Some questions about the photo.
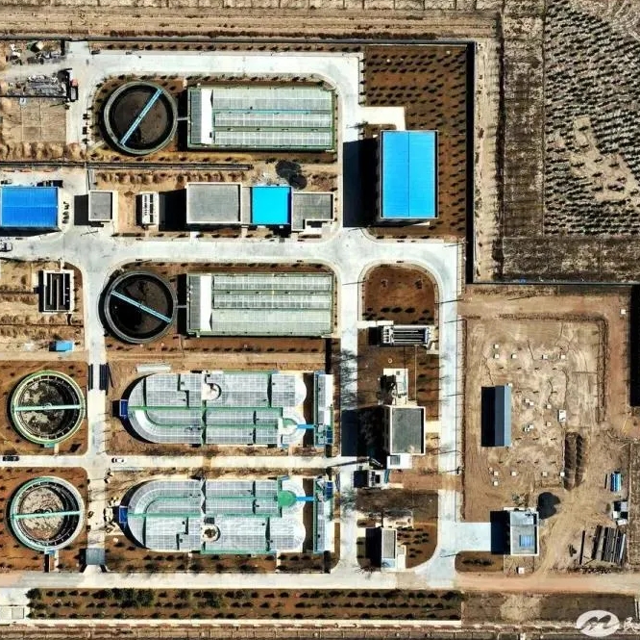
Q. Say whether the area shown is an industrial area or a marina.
industrial area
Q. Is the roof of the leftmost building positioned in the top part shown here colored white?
No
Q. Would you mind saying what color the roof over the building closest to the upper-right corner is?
blue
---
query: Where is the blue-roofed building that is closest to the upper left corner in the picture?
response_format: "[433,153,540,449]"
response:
[0,187,61,230]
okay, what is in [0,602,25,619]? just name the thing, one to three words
building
